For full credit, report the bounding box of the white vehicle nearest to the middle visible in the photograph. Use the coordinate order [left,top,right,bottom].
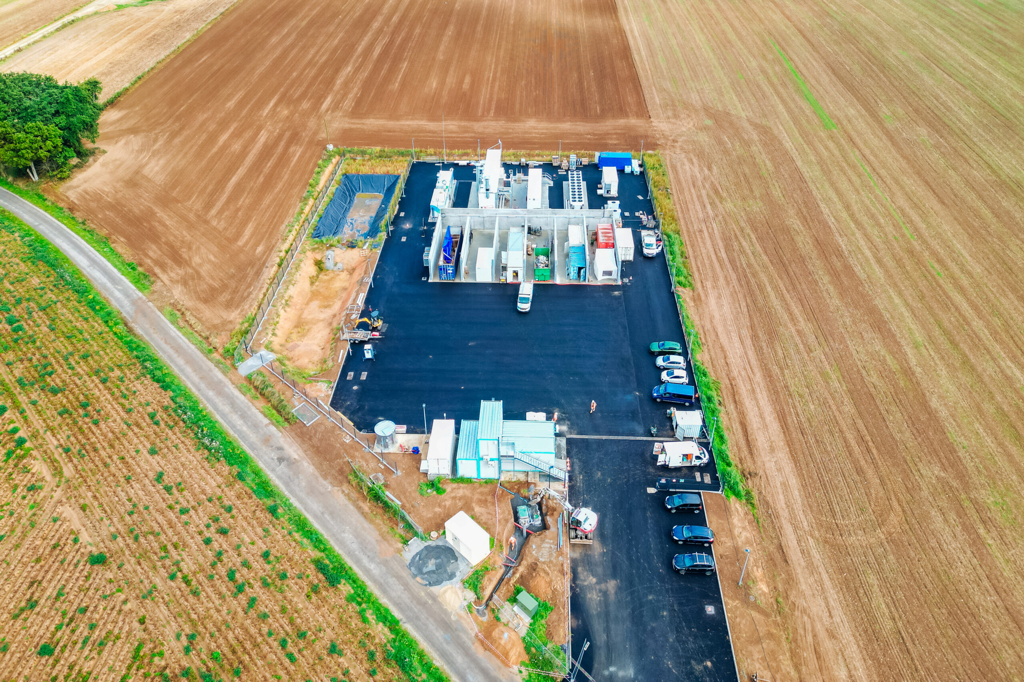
[517,285,533,313]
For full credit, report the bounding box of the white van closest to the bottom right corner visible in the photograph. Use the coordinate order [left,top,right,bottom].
[653,435,706,463]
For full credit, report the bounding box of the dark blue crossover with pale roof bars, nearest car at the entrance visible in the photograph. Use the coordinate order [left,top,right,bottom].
[671,548,718,574]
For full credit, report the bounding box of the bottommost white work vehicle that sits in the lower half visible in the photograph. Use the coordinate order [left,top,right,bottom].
[527,486,597,539]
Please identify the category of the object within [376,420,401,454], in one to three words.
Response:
water tank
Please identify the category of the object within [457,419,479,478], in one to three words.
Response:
building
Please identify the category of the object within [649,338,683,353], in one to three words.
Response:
car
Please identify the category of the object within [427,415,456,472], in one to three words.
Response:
shipping container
